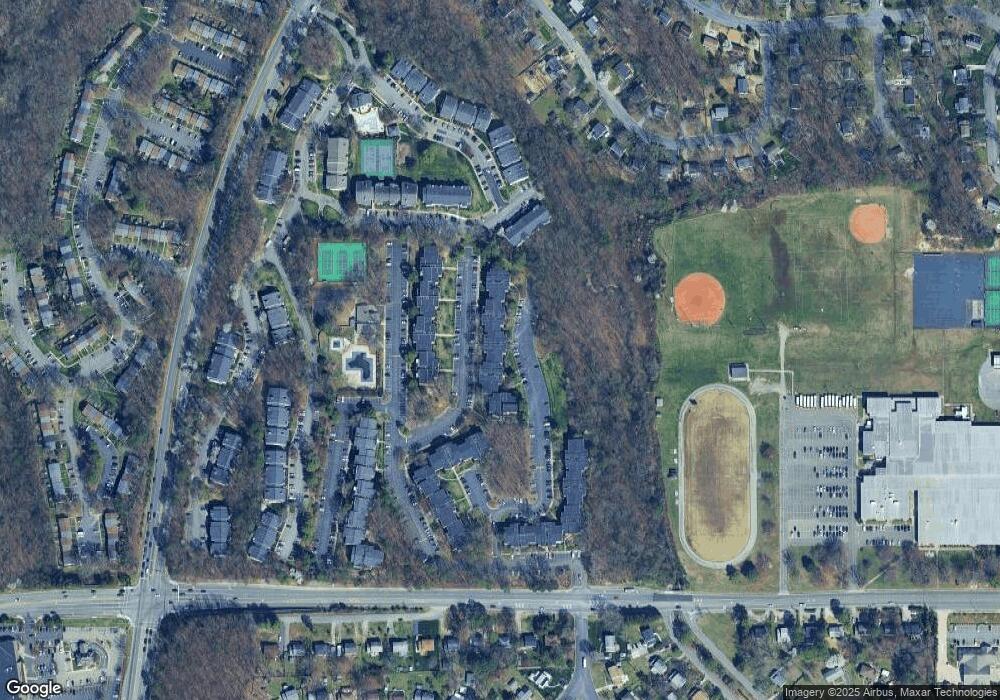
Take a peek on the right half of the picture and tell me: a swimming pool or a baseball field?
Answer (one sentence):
There is a baseball field on the right half of the picture.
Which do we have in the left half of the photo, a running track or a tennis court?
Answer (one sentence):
You can see a tennis court in the left half of the photo.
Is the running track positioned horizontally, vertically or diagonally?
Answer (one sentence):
Seen from above, the running track lies vertically.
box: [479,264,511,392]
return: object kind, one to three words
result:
building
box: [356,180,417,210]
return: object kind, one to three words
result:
building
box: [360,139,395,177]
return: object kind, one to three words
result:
tennis court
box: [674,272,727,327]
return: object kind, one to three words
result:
baseball field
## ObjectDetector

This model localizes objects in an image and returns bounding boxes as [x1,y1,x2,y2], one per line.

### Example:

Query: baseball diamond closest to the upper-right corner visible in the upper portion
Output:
[850,203,888,244]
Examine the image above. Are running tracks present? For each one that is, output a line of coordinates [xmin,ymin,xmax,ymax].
[678,384,758,570]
